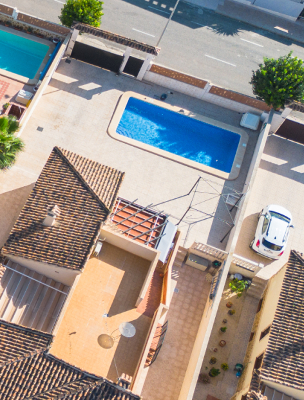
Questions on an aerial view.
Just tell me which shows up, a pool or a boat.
pool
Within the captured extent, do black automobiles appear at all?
No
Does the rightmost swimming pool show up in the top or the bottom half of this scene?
top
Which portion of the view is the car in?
right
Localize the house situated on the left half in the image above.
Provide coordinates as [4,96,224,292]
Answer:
[0,144,185,400]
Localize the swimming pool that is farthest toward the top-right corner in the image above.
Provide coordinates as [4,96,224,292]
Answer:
[105,90,249,180]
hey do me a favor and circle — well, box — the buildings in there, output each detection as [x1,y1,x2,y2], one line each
[241,248,304,400]
[0,144,185,400]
